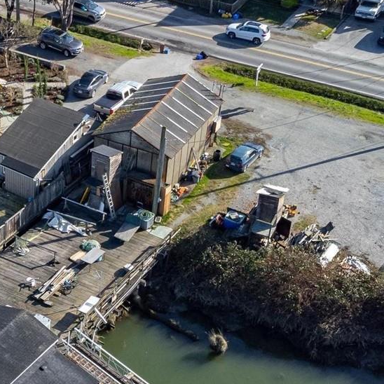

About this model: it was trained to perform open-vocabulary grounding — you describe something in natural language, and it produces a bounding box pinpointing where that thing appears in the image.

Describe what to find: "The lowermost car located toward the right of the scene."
[218,143,271,174]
